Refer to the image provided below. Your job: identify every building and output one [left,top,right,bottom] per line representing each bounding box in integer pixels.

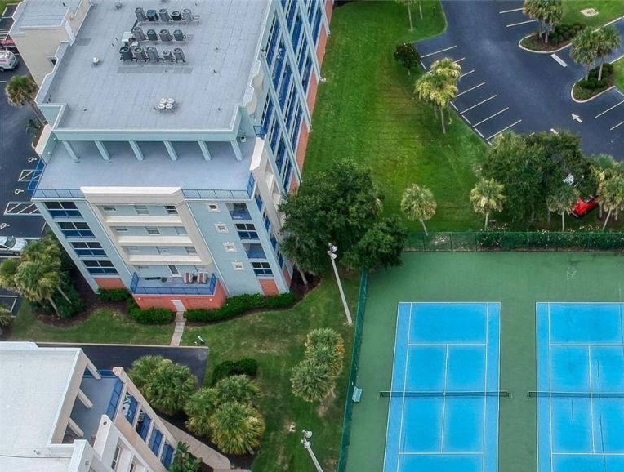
[7,0,333,312]
[0,346,182,472]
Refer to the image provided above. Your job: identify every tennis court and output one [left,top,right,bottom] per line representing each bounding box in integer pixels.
[345,255,518,472]
[518,255,624,472]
